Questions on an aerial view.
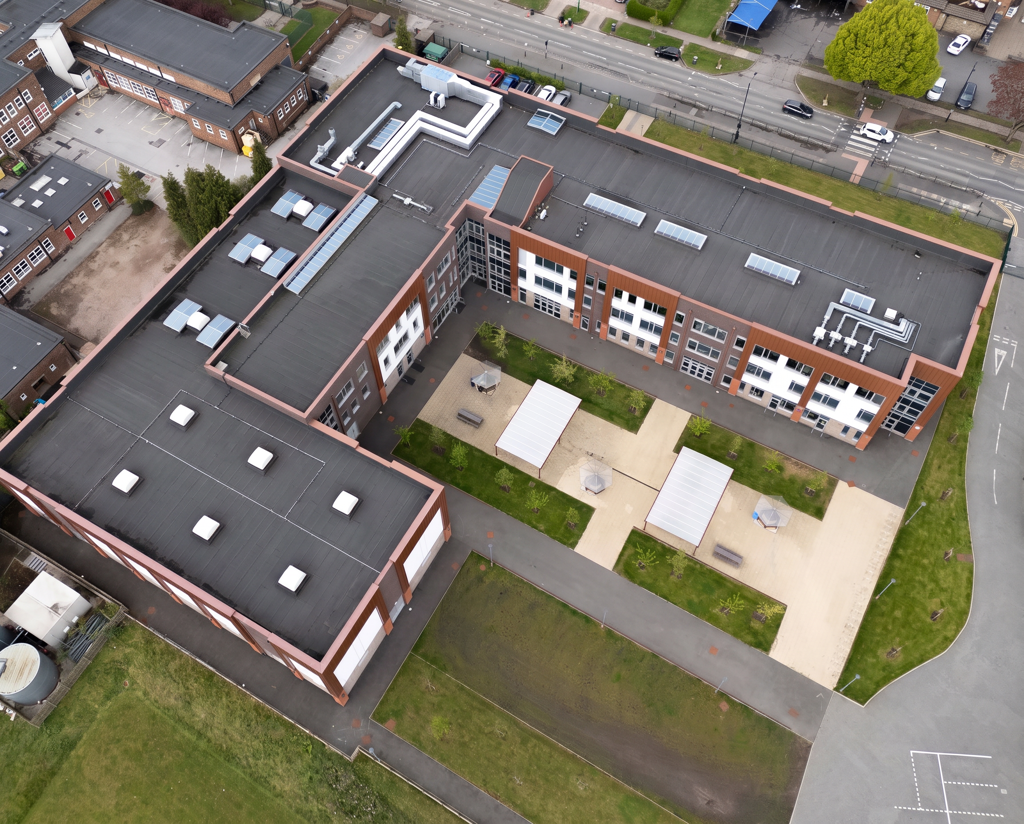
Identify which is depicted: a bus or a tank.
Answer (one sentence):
Visible in the photo is a tank.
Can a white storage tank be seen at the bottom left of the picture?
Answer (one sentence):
Yes, a white storage tank shows up at the bottom left of the picture.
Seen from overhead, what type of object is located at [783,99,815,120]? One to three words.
car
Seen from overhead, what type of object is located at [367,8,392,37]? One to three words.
shed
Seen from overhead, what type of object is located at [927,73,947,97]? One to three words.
car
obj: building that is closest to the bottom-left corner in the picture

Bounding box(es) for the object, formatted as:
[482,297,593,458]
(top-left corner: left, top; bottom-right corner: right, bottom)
[2,570,92,648]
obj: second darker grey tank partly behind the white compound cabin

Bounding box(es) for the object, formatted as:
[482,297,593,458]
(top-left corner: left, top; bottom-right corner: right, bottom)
[0,615,32,643]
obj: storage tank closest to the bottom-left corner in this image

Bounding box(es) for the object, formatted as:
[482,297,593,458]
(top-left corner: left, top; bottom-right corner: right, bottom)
[0,639,55,704]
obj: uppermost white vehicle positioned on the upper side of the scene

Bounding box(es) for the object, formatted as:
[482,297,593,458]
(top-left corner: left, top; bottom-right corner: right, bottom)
[949,35,970,54]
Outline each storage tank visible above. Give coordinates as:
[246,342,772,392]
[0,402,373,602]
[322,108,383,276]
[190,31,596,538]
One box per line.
[0,639,55,704]
[0,615,32,643]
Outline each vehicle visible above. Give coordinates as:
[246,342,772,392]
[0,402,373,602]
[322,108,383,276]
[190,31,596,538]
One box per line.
[783,99,815,120]
[861,123,894,144]
[536,85,556,103]
[512,78,533,97]
[497,74,519,91]
[654,44,681,61]
[483,67,504,87]
[957,79,978,106]
[949,35,970,54]
[551,91,571,109]
[927,73,947,97]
